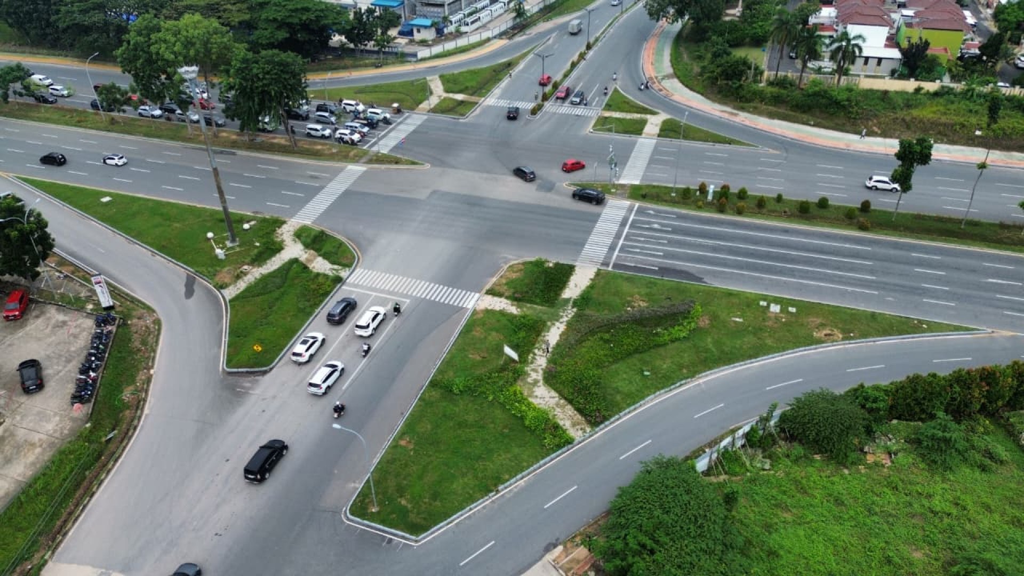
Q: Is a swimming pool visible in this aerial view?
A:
No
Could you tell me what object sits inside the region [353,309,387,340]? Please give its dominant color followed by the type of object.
white car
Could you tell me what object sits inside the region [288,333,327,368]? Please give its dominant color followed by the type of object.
white car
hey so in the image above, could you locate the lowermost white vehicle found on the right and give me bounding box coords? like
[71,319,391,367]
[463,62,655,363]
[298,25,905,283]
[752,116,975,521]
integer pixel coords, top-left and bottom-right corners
[863,176,900,193]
